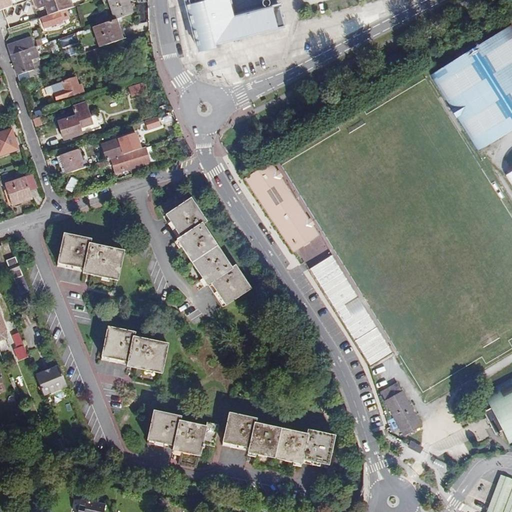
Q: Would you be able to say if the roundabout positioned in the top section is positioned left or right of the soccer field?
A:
on its left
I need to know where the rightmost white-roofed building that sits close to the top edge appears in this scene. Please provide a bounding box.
[431,26,512,152]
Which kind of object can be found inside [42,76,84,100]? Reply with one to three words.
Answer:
house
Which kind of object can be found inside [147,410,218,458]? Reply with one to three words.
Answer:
building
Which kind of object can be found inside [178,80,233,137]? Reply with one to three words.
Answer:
roundabout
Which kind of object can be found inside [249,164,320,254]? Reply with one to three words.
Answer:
building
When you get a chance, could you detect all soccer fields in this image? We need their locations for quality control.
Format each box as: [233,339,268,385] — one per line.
[283,80,512,390]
